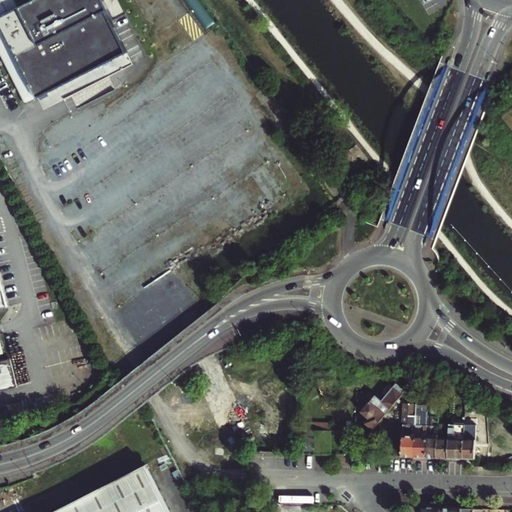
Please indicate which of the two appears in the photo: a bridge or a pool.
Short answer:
bridge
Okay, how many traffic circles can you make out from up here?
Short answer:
1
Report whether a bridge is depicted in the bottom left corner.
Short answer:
Yes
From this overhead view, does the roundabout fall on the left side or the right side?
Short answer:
right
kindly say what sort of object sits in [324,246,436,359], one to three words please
roundabout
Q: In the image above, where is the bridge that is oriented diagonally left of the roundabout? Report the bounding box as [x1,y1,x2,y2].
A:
[0,308,234,485]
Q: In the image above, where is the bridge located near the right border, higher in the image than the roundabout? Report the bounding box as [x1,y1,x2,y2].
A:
[376,50,496,254]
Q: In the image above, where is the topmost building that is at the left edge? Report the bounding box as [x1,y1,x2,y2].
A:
[0,0,130,110]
